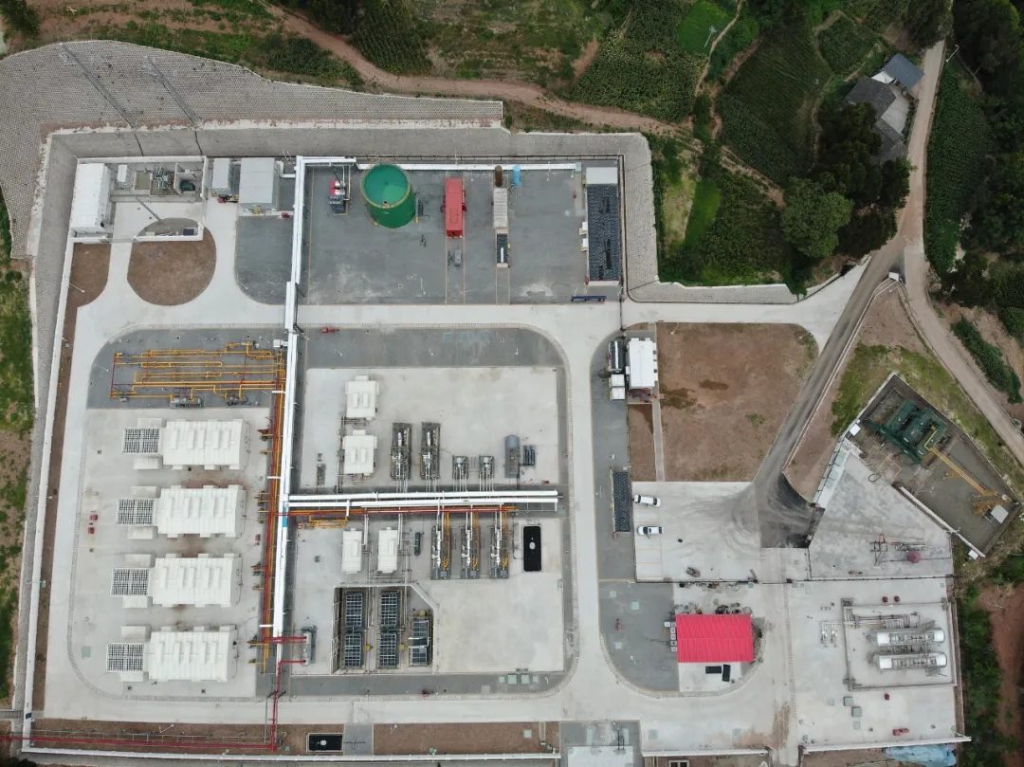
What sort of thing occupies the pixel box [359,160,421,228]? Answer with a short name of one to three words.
storage tank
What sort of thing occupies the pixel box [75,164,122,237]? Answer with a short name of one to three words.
building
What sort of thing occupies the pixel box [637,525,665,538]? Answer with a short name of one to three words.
vehicle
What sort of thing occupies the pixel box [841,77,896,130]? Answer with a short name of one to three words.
house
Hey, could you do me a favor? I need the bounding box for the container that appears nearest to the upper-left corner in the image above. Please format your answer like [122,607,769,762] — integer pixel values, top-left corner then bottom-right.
[443,178,468,237]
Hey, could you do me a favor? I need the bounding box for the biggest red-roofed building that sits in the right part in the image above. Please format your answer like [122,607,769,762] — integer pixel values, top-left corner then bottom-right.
[673,614,753,662]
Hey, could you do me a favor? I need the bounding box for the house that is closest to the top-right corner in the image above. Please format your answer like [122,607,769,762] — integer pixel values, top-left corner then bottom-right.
[876,55,922,98]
